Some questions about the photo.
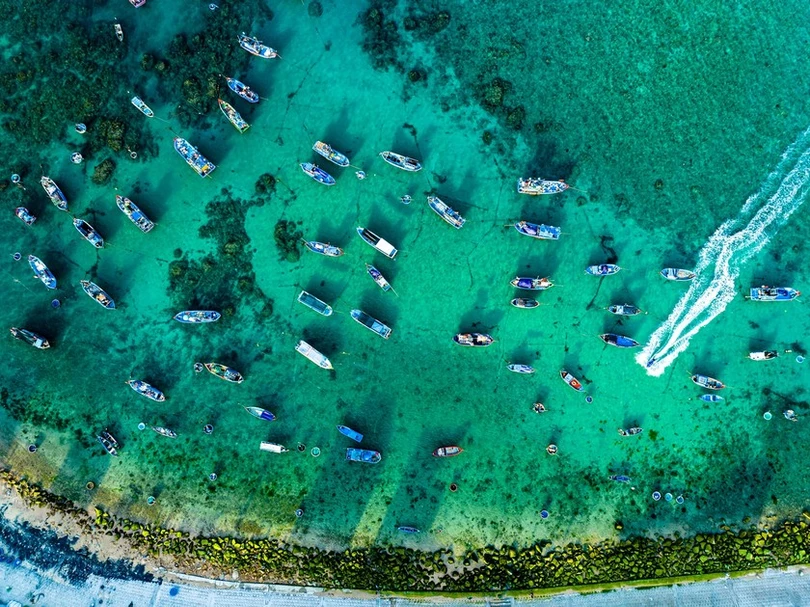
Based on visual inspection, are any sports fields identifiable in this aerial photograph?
No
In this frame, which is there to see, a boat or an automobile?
boat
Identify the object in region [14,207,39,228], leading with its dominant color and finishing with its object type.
blue boat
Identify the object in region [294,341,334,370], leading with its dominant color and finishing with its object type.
white boat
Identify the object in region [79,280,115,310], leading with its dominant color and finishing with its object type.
blue boat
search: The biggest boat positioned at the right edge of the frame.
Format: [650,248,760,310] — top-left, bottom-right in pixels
[747,283,806,301]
